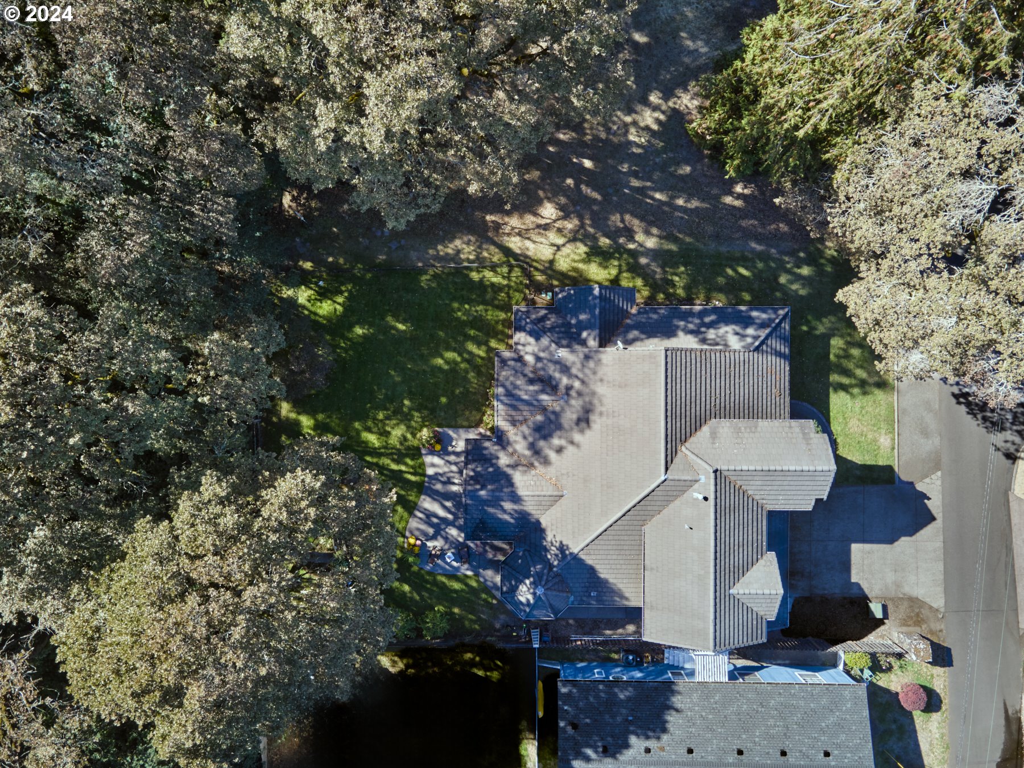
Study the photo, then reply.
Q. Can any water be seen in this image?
No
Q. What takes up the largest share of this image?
trees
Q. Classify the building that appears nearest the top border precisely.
home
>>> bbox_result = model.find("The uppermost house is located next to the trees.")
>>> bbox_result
[462,284,838,653]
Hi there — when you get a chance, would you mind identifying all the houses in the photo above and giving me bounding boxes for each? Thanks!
[557,663,876,768]
[462,284,838,653]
